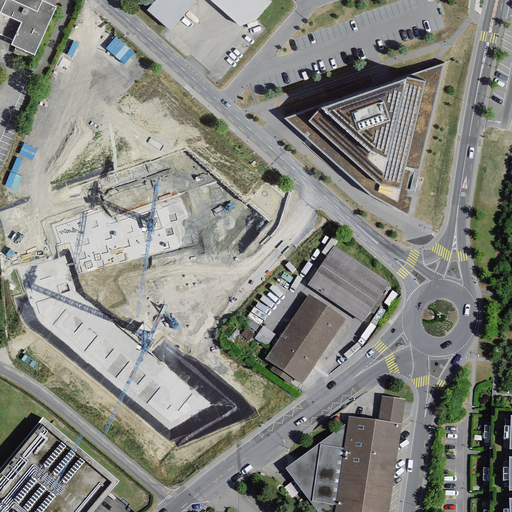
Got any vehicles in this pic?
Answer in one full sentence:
Yes, the frame does contain a vehicle.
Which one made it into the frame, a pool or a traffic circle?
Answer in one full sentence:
It is a traffic circle that can be seen here.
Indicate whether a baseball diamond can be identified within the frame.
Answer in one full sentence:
No, the photo shows no baseball diamond.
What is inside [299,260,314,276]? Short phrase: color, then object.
white vehicle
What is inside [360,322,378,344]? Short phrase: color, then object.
white vehicle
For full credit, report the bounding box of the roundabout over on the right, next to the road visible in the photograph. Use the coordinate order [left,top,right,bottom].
[338,208,479,408]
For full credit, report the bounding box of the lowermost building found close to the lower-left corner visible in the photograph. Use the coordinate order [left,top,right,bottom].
[0,417,119,512]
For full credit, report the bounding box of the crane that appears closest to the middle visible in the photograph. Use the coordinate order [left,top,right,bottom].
[134,180,158,320]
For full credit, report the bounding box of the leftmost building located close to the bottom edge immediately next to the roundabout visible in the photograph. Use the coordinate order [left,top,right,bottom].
[286,396,406,512]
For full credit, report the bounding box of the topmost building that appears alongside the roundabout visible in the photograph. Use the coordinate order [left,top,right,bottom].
[285,63,444,216]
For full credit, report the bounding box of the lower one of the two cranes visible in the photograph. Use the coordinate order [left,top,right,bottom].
[80,302,165,474]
